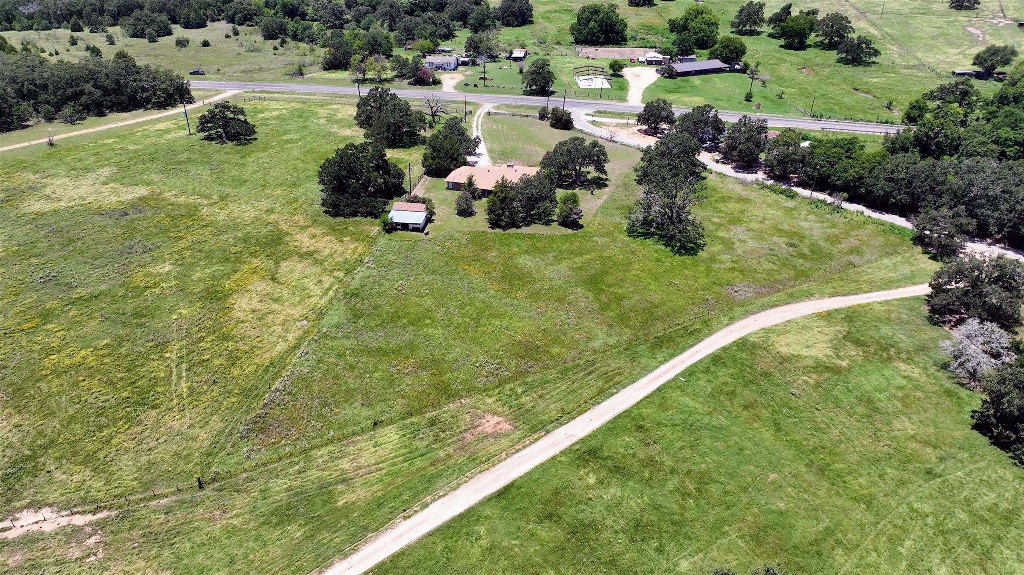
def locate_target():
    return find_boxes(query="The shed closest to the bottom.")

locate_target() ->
[387,200,431,231]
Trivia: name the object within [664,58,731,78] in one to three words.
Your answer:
house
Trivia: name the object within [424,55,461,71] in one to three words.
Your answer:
house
